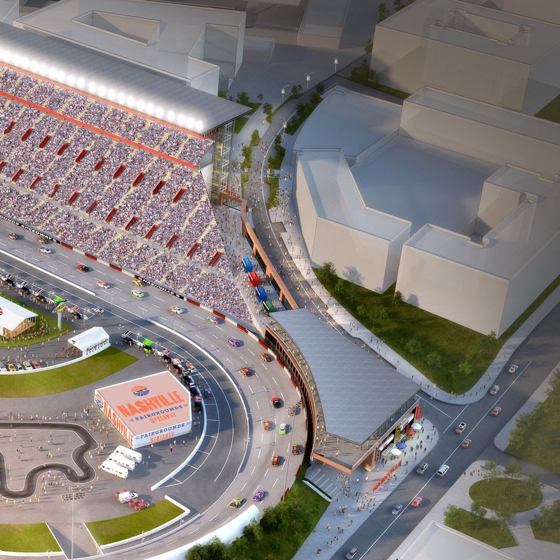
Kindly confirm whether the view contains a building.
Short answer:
Yes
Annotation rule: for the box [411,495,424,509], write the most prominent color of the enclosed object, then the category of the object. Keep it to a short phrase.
red vehicle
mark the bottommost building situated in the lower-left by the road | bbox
[94,368,193,449]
